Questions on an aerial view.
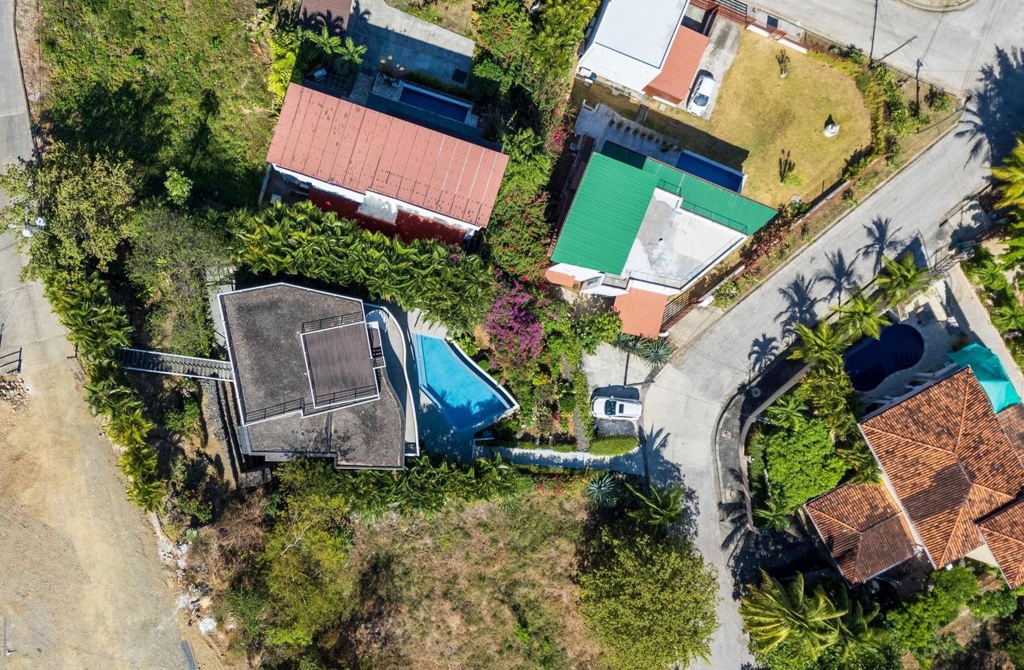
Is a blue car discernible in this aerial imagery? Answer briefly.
No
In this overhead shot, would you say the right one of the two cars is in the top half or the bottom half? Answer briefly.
top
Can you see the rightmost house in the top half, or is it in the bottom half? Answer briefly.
bottom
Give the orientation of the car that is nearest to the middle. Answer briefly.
from side to side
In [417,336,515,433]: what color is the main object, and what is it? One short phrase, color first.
blue swimming pool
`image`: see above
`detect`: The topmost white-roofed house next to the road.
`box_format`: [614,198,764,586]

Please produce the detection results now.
[577,0,718,109]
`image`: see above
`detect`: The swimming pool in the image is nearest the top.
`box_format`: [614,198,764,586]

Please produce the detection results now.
[393,79,477,127]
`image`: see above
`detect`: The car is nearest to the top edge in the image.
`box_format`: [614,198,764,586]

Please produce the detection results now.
[686,72,715,117]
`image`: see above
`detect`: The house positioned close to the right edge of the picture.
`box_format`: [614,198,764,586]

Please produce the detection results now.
[800,365,1024,596]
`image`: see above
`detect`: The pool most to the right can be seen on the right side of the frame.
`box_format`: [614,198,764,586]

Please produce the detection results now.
[845,323,924,390]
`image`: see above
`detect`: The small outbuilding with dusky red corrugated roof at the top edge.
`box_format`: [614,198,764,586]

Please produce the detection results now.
[299,0,353,38]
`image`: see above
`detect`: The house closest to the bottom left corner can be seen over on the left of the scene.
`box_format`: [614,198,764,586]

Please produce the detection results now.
[218,283,422,470]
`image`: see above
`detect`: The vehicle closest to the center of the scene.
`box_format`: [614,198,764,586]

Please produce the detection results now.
[591,396,641,420]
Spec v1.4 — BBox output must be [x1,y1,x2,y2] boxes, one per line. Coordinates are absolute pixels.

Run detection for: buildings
[218,283,422,470]
[545,130,779,339]
[577,0,718,109]
[266,83,509,263]
[800,365,1024,596]
[299,0,353,38]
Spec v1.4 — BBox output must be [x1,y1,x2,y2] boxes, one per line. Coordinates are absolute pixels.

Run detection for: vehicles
[591,396,641,420]
[686,72,715,117]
